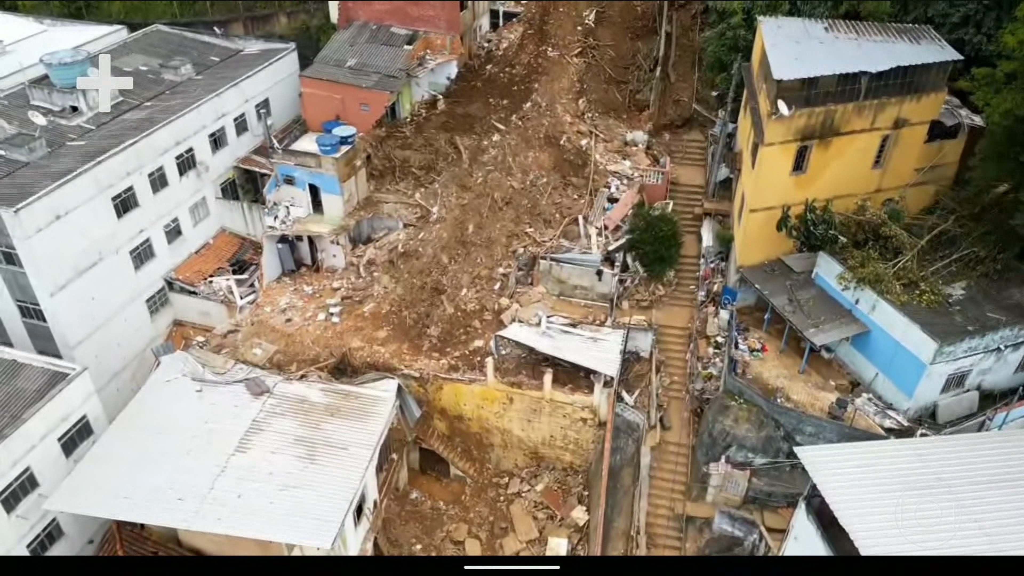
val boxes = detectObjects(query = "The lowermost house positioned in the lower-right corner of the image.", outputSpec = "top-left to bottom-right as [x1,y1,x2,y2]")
[776,429,1024,576]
